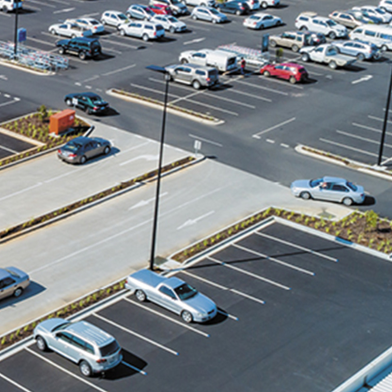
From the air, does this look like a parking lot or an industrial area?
parking lot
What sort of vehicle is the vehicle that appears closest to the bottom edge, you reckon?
automobile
